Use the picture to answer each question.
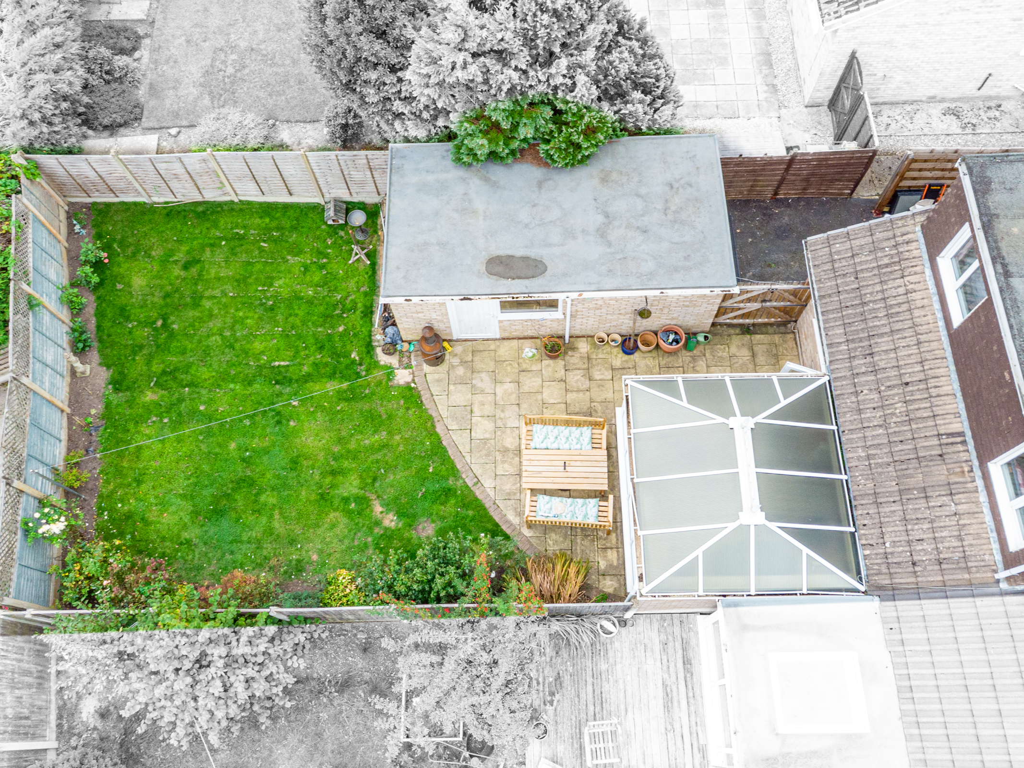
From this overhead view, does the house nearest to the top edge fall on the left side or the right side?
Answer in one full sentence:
The house nearest to the top edge appears in the right half of the scene.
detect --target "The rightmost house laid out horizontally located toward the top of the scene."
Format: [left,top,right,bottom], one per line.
[785,0,1024,105]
